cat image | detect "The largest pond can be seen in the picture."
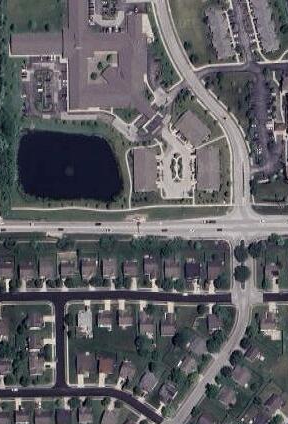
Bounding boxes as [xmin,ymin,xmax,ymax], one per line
[17,129,125,201]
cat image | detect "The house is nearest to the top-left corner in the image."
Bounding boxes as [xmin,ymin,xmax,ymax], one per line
[12,0,159,122]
